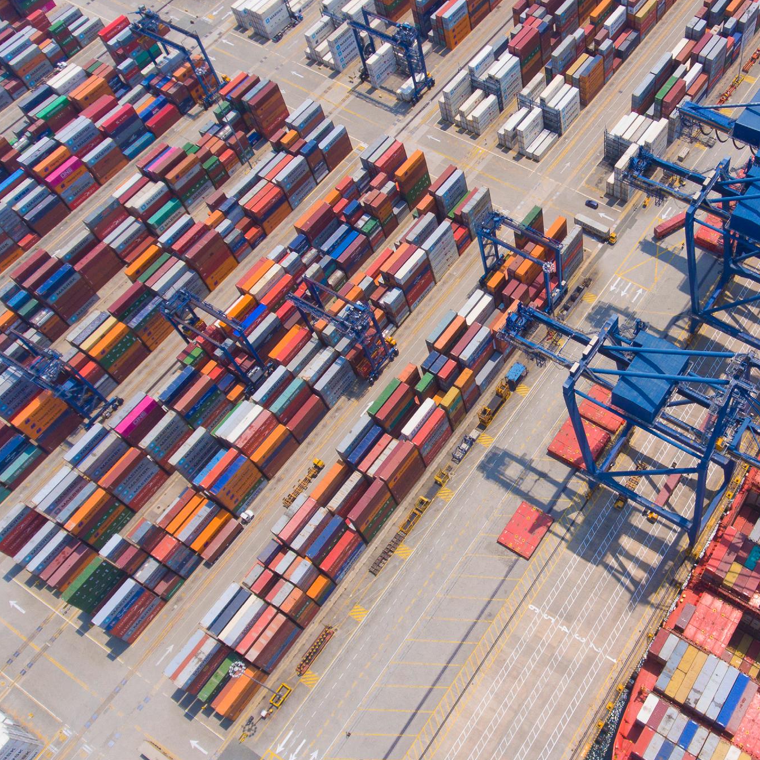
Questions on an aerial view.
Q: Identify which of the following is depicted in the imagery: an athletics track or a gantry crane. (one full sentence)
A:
There is a gantry crane in the scene.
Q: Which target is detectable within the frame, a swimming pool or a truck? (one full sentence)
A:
It is a truck that can be seen here.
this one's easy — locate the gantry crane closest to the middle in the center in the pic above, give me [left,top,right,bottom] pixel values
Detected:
[285,272,396,380]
